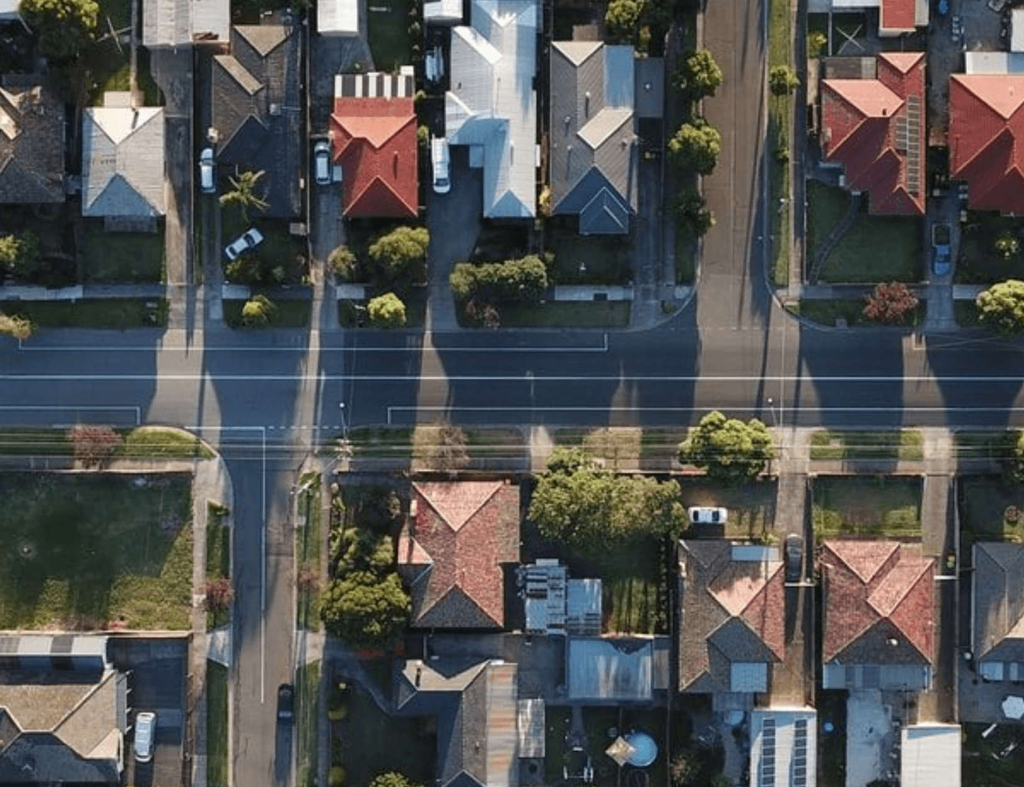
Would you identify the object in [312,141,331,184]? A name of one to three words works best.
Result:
car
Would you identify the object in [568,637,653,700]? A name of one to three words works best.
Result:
shed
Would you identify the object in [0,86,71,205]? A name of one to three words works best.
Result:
house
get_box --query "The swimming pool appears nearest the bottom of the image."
[627,732,660,769]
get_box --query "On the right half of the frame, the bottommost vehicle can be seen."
[785,536,805,583]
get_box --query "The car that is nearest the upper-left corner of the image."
[196,147,215,190]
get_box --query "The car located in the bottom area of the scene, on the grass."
[689,507,728,525]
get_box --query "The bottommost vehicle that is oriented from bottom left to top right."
[224,226,264,259]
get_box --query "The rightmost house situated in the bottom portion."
[967,541,1024,679]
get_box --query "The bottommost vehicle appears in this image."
[131,712,155,764]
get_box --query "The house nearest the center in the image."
[396,481,521,629]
